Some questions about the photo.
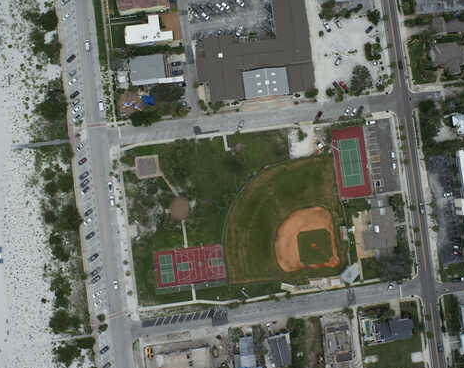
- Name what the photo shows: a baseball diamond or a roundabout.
baseball diamond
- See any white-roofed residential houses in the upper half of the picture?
Yes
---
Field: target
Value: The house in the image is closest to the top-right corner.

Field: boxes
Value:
[429,17,464,34]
